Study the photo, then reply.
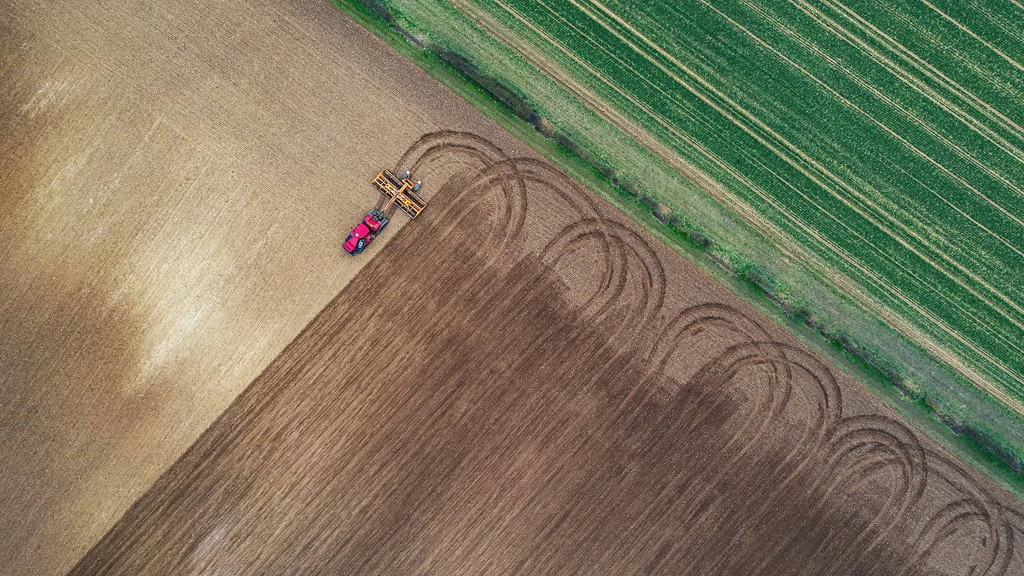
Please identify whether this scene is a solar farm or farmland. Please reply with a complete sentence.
What you see here is farmland.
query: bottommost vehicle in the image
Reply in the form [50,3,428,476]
[342,209,390,257]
